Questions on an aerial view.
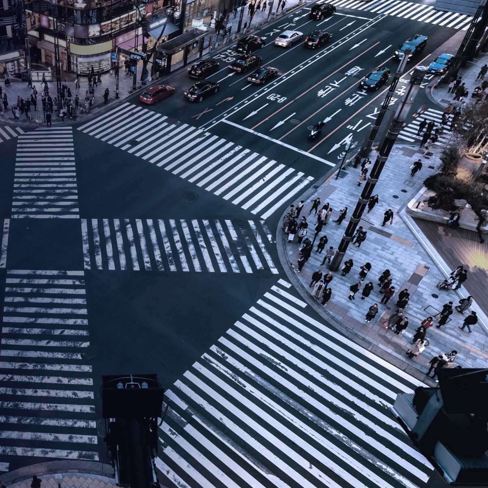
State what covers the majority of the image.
paved ground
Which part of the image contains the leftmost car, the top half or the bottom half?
top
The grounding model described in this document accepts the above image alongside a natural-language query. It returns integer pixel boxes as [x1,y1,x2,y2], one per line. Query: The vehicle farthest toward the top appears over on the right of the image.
[310,1,337,17]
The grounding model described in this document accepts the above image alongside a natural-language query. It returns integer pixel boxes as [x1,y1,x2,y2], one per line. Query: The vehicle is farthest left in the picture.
[139,83,175,103]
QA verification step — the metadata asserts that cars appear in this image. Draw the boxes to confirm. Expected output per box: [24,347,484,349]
[187,58,221,78]
[274,27,306,46]
[305,29,334,47]
[230,53,262,72]
[359,63,395,89]
[236,29,267,52]
[246,63,280,83]
[310,1,337,17]
[139,83,175,103]
[183,80,220,100]
[396,29,429,57]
